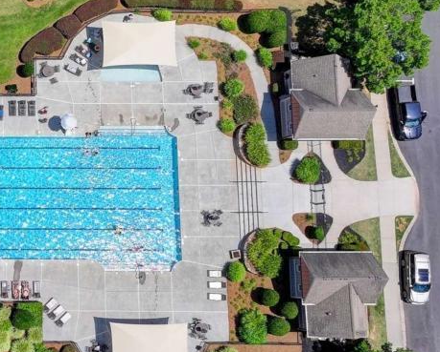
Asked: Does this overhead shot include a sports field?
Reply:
No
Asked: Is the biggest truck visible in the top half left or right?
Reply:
right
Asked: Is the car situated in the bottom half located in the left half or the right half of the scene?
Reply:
right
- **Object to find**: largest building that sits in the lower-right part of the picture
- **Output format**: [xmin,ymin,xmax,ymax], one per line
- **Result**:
[283,251,392,341]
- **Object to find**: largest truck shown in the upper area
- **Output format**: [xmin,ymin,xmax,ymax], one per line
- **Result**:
[392,84,429,140]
